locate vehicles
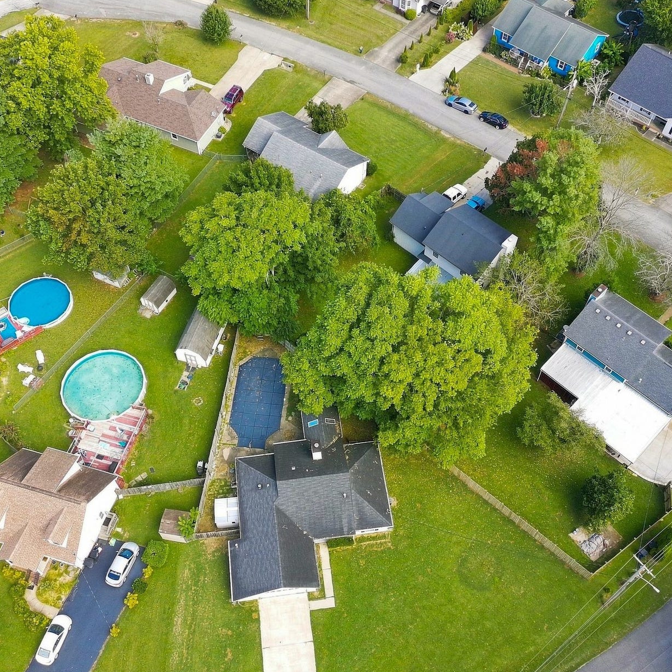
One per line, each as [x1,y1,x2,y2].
[430,0,449,13]
[102,541,141,589]
[31,614,73,667]
[224,84,246,111]
[464,190,491,211]
[478,112,511,131]
[443,180,472,200]
[446,96,479,114]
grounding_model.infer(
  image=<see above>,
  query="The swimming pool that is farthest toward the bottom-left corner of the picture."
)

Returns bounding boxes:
[60,349,147,427]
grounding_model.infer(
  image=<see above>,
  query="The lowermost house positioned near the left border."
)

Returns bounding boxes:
[0,445,122,591]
